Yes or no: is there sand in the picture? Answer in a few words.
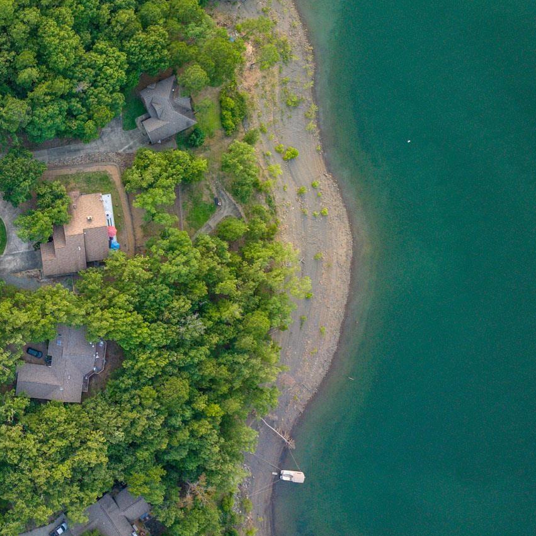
Yes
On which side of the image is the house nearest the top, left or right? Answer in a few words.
left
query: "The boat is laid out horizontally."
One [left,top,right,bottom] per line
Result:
[280,471,306,484]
